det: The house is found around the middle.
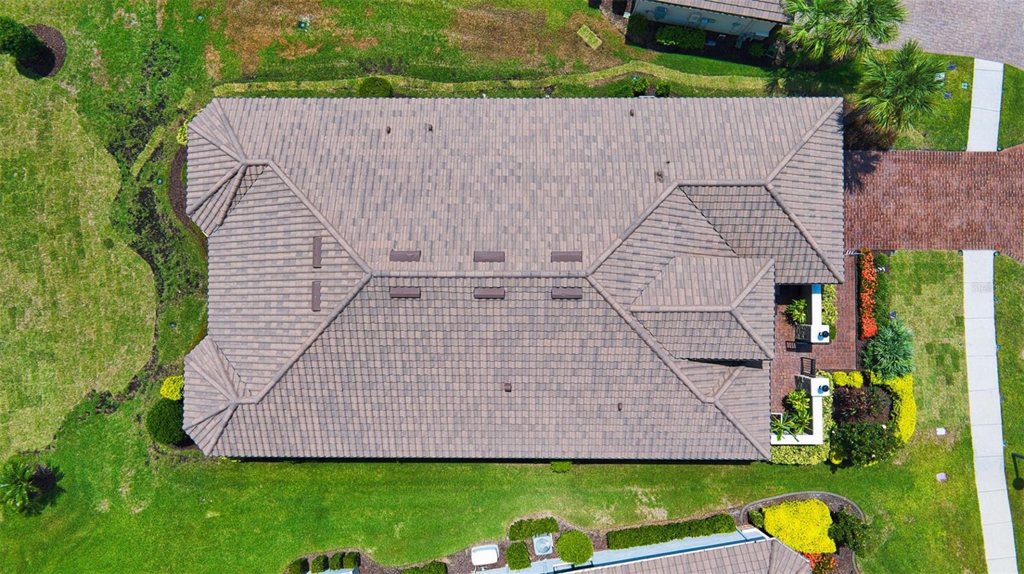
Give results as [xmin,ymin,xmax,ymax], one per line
[180,95,847,461]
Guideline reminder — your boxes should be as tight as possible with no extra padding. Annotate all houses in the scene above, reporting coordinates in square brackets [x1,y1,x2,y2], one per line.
[180,95,847,461]
[630,0,799,41]
[466,523,814,574]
